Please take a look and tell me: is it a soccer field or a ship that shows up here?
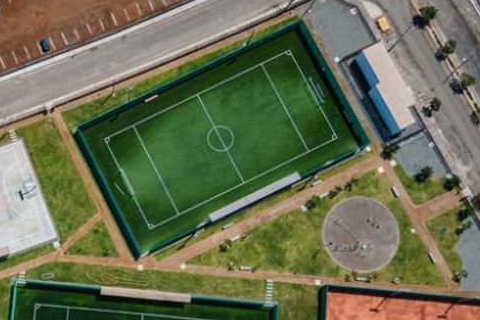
soccer field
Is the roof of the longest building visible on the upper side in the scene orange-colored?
No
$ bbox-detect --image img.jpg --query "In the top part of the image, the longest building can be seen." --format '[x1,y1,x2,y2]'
[351,40,417,138]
